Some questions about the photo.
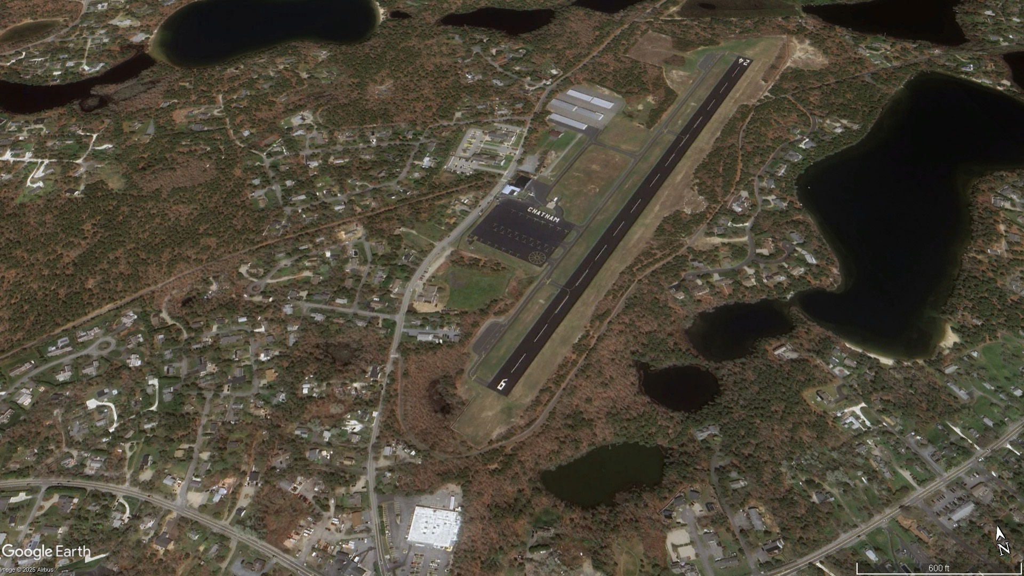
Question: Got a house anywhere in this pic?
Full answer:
Yes, there's a house down there.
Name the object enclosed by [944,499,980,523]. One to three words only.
house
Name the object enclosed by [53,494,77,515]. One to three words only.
house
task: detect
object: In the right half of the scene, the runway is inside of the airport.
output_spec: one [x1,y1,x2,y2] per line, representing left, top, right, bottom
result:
[487,55,753,396]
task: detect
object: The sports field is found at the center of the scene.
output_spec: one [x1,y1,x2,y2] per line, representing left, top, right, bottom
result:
[446,269,510,310]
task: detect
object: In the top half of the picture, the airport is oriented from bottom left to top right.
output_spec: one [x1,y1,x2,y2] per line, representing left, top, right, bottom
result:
[467,50,753,396]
